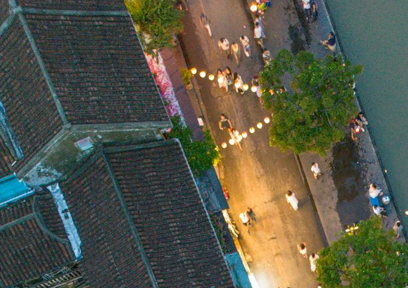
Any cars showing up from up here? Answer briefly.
No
